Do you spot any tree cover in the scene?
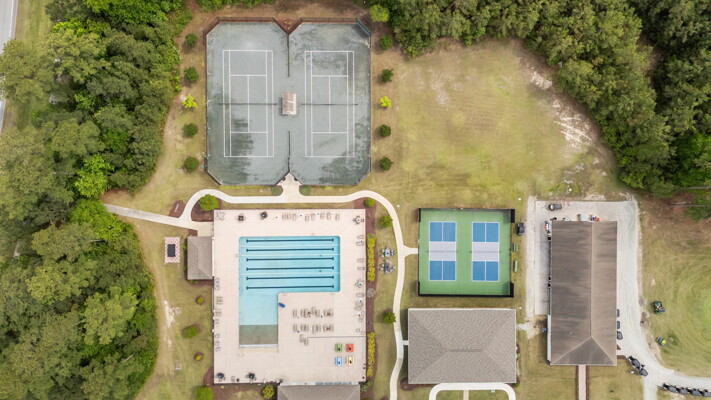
Yes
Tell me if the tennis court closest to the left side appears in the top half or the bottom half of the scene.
top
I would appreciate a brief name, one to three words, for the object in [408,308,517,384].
building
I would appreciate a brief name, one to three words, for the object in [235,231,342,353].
swimming pool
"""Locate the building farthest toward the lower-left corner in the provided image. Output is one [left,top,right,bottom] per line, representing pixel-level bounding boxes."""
[187,236,216,280]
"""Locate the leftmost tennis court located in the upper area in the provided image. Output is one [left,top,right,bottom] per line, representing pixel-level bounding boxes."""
[206,22,289,185]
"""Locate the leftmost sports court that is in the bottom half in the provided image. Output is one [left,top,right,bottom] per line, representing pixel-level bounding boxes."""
[421,209,465,294]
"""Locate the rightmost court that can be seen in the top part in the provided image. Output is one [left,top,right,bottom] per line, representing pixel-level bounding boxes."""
[289,23,371,185]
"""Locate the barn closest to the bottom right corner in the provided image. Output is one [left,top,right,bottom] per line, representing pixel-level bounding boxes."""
[542,221,617,365]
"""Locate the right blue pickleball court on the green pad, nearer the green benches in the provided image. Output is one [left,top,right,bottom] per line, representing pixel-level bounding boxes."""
[465,209,512,294]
